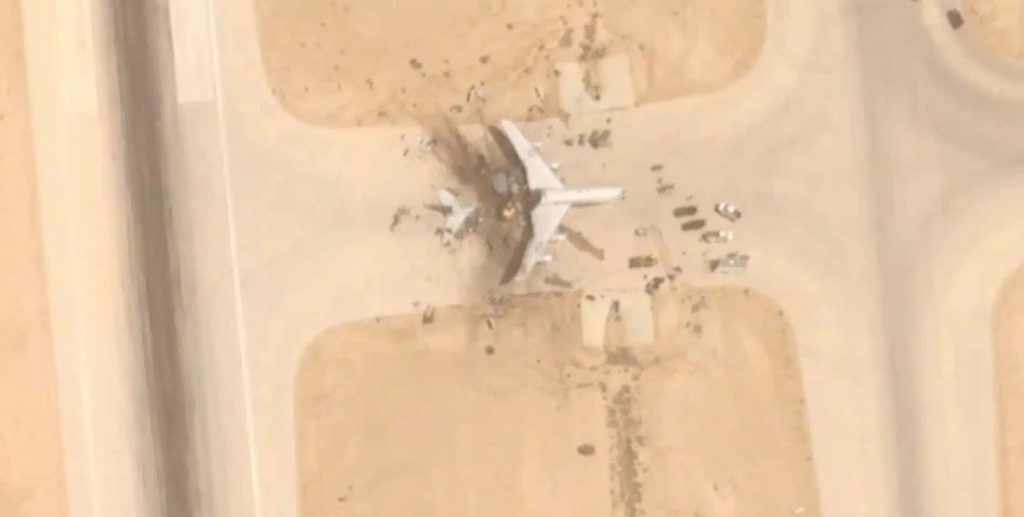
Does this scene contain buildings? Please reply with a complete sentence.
No, there isn't any building down there.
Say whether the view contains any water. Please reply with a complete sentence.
No, no water is visible.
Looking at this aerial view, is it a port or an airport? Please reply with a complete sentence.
The area seen from above is an airport.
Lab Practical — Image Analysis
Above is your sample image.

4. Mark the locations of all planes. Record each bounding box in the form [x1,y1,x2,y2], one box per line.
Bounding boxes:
[501,119,627,281]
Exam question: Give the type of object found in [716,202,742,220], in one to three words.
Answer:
vehicle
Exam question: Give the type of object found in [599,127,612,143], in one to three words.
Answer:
vehicle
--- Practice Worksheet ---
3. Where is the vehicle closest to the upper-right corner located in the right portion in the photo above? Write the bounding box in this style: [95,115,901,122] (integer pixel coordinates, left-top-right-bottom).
[949,9,964,26]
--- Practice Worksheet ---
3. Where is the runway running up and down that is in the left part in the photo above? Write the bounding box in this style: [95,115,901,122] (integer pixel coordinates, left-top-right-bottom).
[21,0,259,517]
